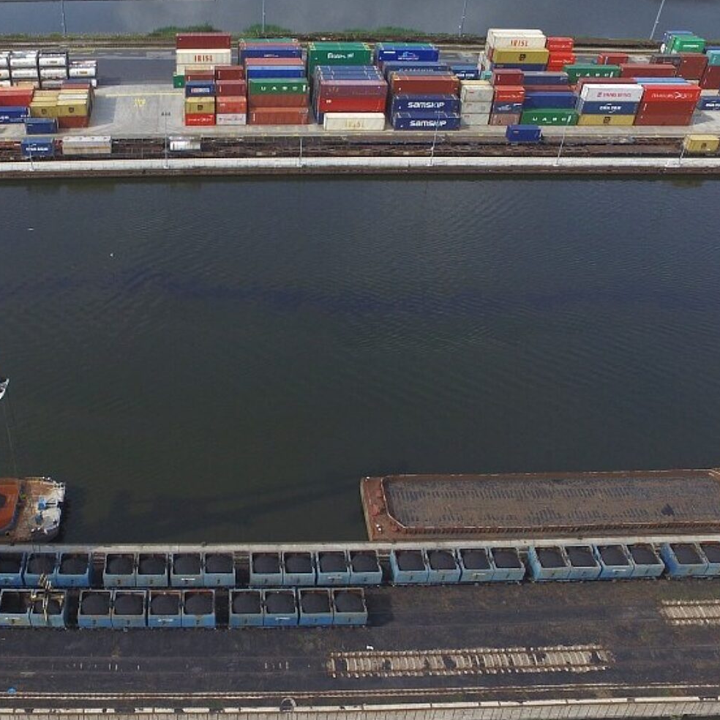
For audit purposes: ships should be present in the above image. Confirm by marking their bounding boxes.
[359,469,720,539]
[0,472,67,543]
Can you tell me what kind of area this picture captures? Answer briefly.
port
